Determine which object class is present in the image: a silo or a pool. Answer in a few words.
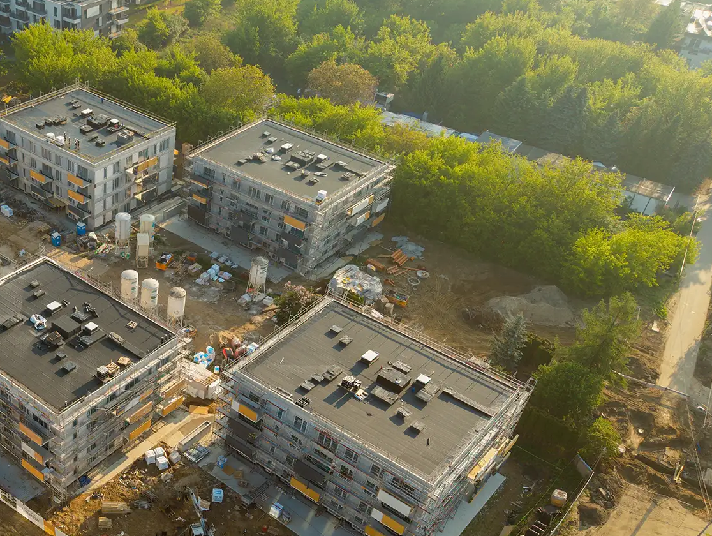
silo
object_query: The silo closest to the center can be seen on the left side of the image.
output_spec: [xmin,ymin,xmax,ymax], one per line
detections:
[247,260,268,302]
